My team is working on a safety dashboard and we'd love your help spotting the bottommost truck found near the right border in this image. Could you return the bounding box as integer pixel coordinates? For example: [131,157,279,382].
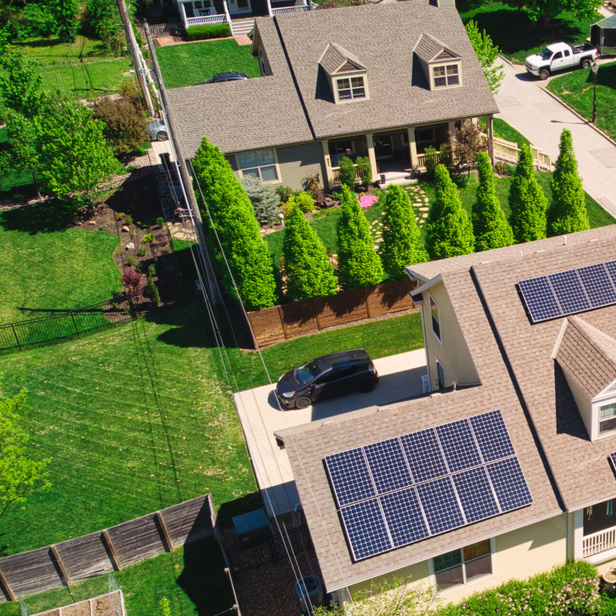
[519,43,596,78]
